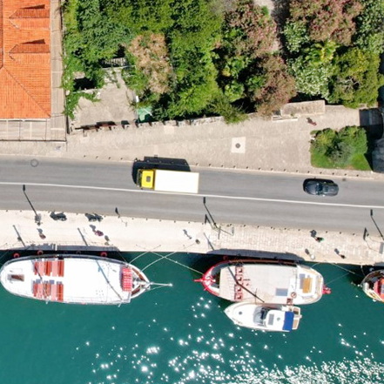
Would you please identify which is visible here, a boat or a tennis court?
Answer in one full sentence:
There is a boat in the scene.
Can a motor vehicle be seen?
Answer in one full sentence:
Yes, I can see a motor vehicle in this picture.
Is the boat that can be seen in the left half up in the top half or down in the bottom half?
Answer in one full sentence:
The boat that can be seen in the left half is in the bottom half of the image.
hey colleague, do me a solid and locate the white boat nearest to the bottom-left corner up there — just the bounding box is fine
[0,250,173,305]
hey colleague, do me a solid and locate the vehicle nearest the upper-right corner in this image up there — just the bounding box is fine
[302,179,338,196]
